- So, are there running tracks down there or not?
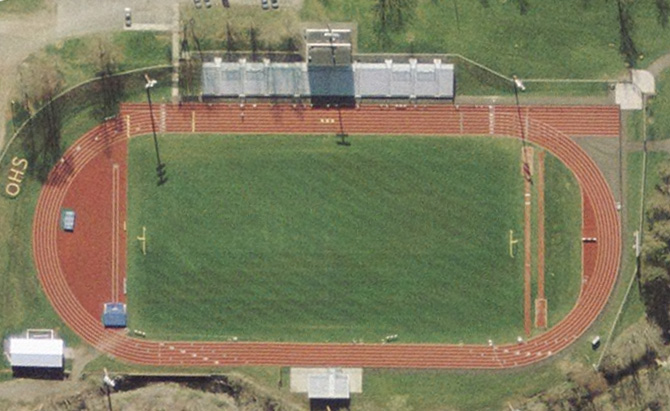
Yes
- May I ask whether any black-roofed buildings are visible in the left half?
No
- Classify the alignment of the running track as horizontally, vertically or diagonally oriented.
horizontally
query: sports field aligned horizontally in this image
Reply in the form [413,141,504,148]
[127,135,581,344]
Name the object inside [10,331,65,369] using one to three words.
building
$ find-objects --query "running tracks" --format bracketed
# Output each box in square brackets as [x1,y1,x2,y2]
[33,103,620,367]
